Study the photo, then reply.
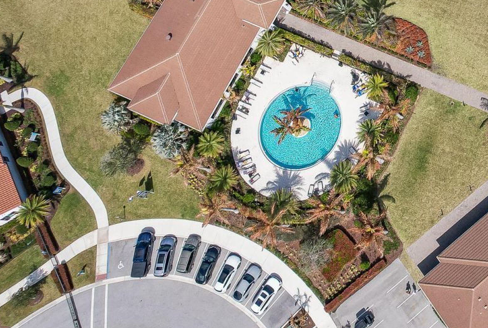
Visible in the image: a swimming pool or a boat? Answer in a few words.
swimming pool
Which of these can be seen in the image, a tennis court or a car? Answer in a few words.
car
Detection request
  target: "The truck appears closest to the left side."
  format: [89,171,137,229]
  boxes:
[131,232,156,276]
